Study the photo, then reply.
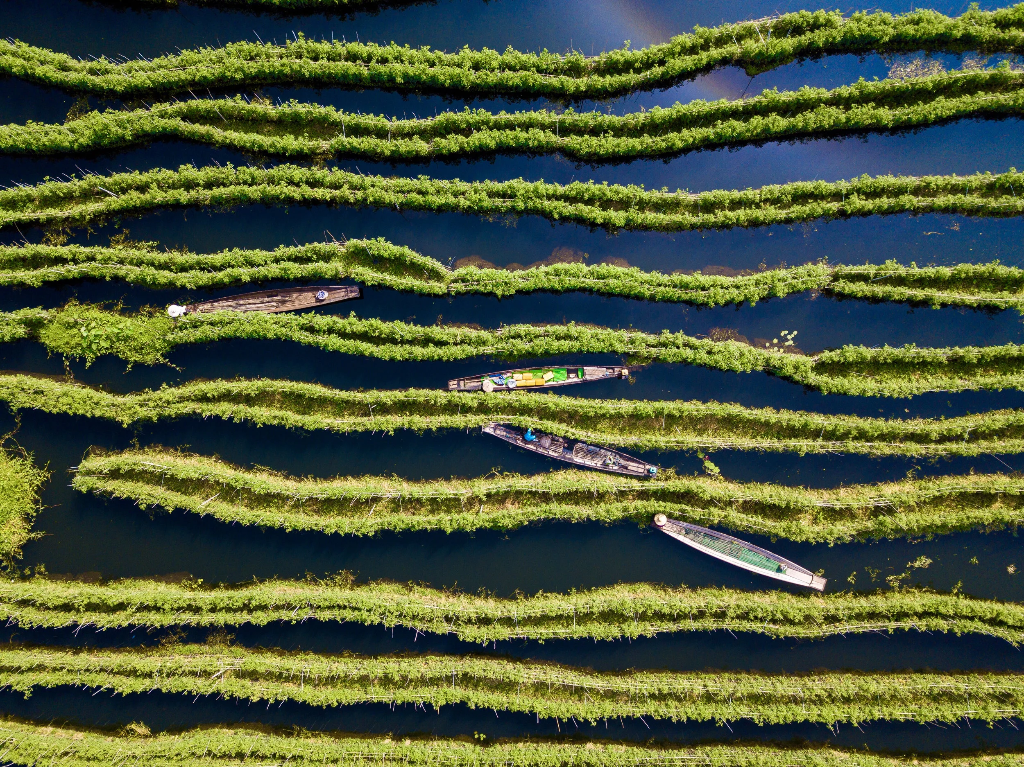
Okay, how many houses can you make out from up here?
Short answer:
0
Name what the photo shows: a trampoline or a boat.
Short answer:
boat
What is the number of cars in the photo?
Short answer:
none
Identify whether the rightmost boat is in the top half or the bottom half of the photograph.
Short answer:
bottom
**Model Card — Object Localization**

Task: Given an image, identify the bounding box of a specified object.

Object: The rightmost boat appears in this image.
[655,519,830,593]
